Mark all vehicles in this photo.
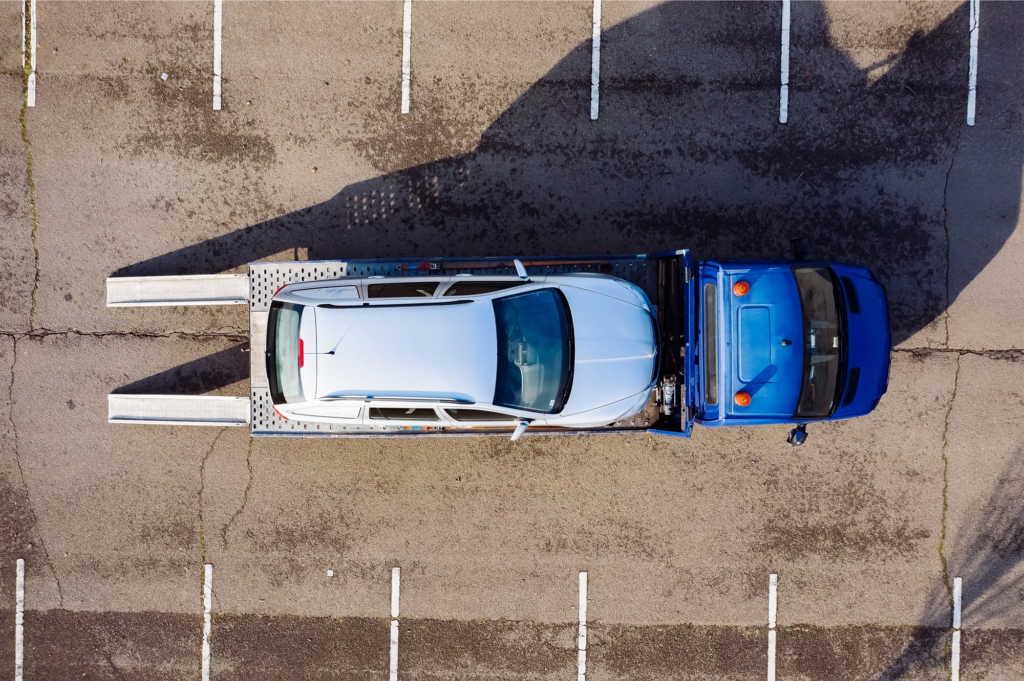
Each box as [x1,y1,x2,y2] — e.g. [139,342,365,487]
[263,258,662,441]
[241,238,889,446]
